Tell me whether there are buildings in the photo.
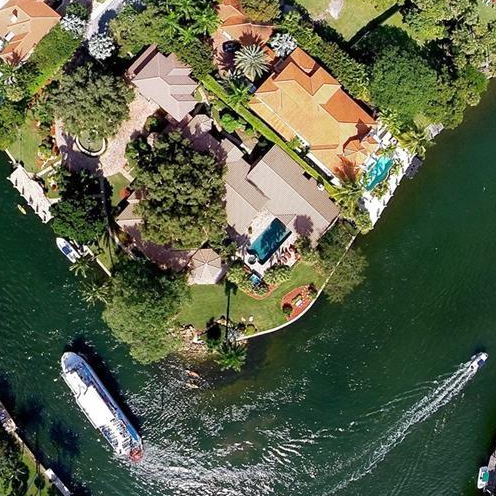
Yes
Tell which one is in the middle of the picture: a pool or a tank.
pool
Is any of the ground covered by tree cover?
Yes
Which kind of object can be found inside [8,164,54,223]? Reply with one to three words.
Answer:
pier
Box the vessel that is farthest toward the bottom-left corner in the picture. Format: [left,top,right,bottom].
[64,355,145,462]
